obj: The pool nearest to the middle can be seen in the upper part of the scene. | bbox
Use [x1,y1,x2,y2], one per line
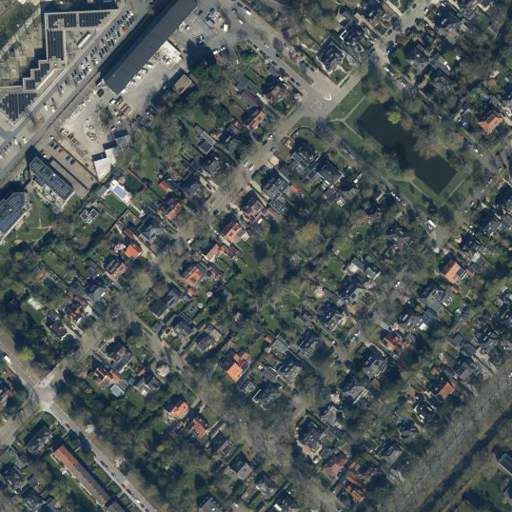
[112,183,129,202]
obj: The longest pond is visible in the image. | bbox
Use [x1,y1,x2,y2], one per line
[358,100,457,195]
